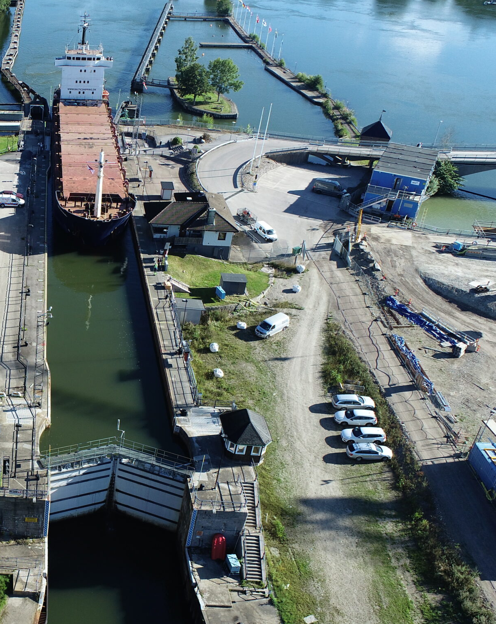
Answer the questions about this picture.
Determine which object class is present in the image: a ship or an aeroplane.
ship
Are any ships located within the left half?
Yes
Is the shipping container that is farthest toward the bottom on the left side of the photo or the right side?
right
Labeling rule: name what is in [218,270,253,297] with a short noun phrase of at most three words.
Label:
shed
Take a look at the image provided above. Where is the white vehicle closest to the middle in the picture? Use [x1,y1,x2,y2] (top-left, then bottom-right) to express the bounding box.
[256,306,296,333]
